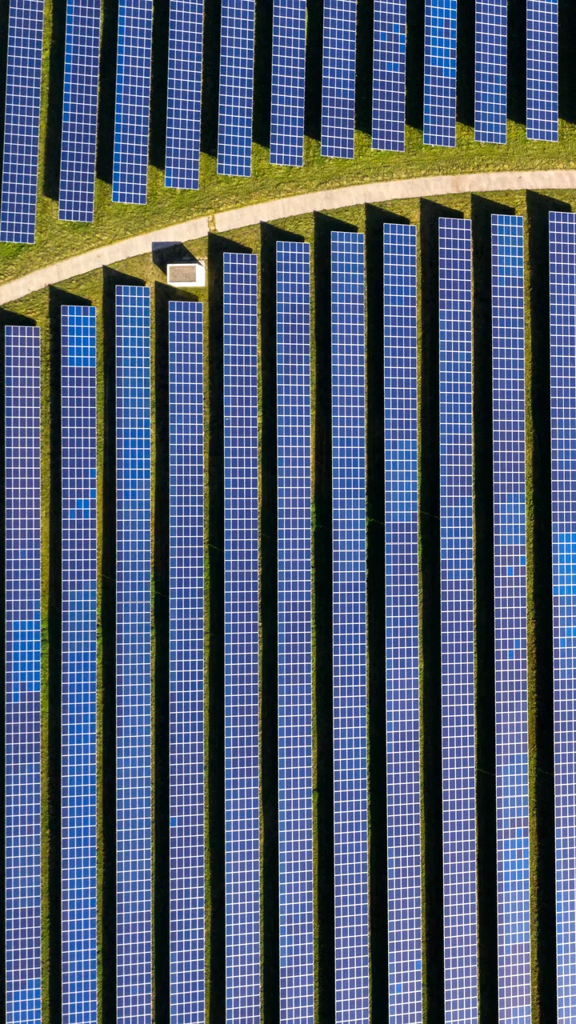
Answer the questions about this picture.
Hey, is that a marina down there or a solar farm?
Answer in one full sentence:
It's a solar farm.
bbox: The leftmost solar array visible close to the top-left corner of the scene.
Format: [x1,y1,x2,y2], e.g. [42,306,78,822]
[0,0,45,245]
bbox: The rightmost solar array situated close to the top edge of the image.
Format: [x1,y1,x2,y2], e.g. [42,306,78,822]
[526,0,557,143]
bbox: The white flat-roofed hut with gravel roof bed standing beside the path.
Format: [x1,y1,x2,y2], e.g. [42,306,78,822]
[167,262,201,286]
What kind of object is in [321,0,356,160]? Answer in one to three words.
solar array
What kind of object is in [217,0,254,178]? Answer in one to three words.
solar array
